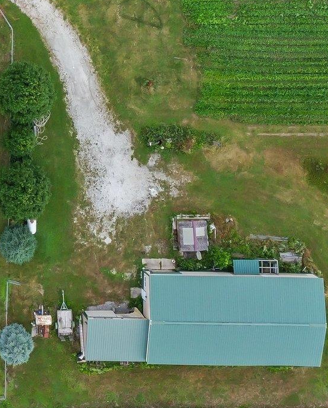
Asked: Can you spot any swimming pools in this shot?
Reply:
No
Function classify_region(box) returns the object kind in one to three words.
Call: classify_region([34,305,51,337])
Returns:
work vehicle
